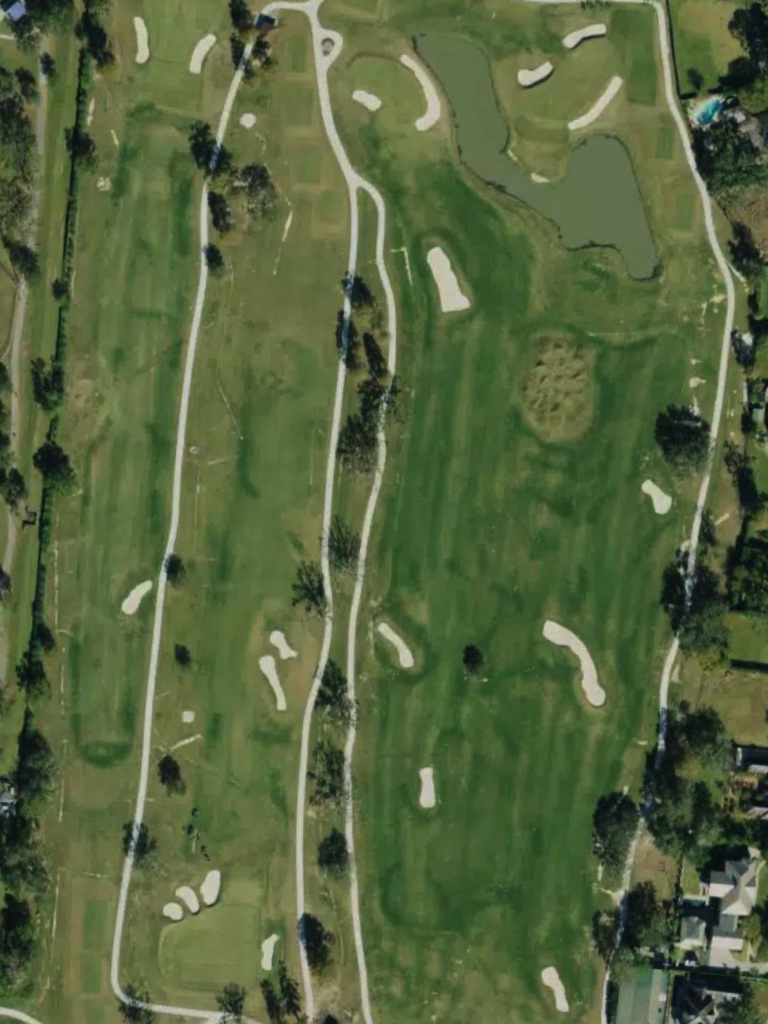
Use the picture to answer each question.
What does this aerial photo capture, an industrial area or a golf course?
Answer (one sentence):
This image shows a golf course.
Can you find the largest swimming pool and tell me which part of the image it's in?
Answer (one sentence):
The largest swimming pool is located in the top right region of the scene.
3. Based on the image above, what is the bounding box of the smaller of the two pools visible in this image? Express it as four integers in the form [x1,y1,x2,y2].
[682,895,708,910]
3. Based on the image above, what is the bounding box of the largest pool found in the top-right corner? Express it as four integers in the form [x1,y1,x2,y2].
[687,93,726,127]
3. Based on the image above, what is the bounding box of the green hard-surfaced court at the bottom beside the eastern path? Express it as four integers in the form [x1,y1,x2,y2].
[616,969,667,1024]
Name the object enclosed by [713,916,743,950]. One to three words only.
building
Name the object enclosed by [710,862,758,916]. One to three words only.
house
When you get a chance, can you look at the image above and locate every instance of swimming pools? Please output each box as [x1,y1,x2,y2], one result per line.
[687,93,726,127]
[682,895,708,910]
